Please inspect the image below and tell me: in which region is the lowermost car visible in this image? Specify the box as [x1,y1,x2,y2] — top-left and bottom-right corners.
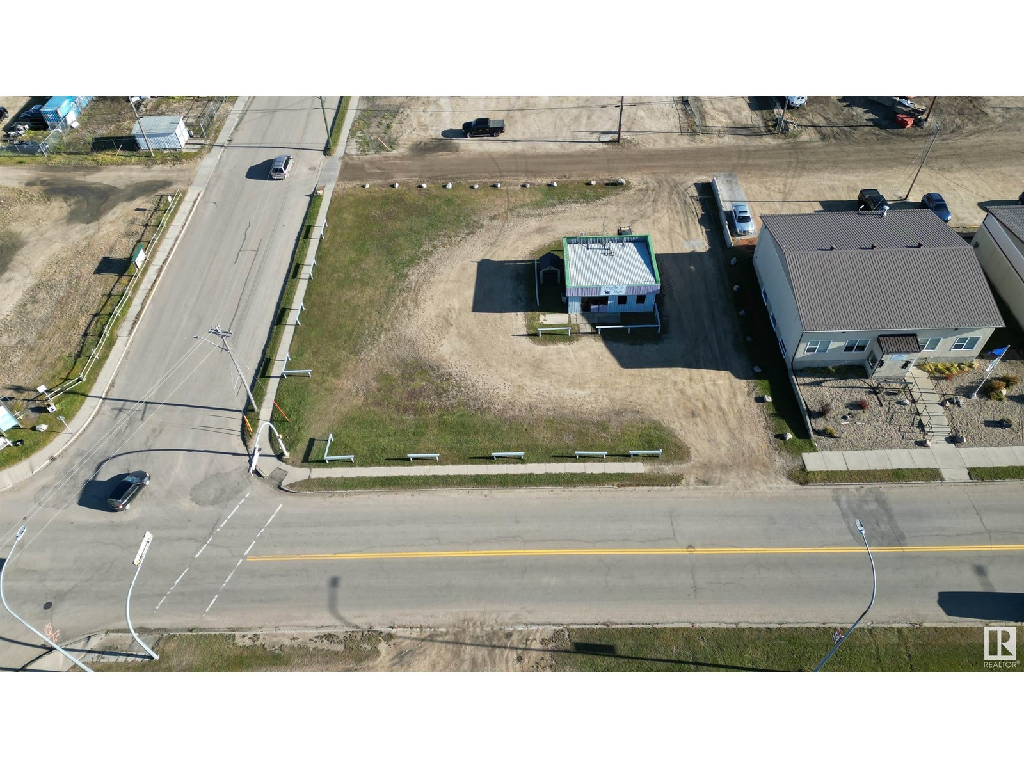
[104,471,153,517]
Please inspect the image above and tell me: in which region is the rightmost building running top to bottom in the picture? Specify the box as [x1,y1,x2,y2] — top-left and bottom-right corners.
[971,205,1024,321]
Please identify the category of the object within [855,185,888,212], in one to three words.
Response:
truck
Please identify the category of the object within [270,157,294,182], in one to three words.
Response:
car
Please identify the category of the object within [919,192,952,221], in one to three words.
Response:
car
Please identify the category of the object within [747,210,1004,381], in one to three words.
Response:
building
